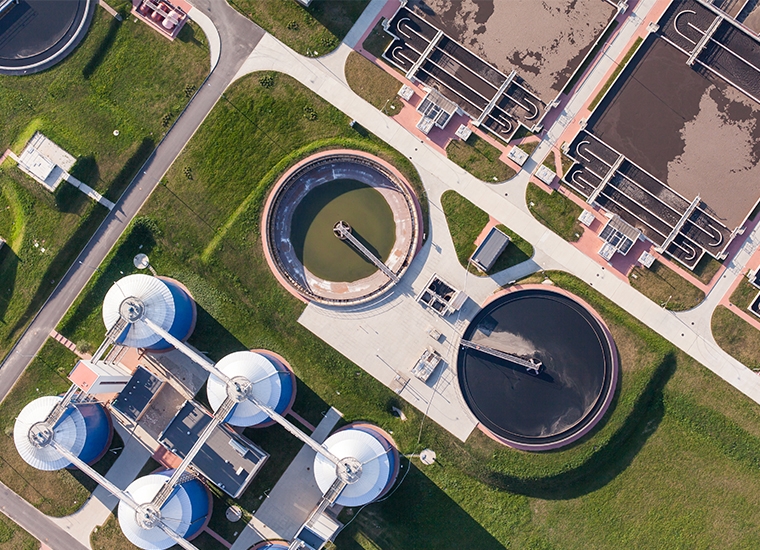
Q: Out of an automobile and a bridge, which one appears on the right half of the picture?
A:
bridge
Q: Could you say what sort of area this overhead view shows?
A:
industrial area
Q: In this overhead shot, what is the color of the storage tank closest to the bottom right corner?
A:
black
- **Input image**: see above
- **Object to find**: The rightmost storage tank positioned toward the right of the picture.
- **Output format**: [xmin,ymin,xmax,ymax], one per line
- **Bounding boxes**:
[459,286,619,451]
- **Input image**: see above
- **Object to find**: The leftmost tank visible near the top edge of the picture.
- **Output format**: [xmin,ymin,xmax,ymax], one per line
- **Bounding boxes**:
[0,0,96,76]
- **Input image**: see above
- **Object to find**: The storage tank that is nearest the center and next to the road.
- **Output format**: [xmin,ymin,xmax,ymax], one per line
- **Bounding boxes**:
[262,149,422,303]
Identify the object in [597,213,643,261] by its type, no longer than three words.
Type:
building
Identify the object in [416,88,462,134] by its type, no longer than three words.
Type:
building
